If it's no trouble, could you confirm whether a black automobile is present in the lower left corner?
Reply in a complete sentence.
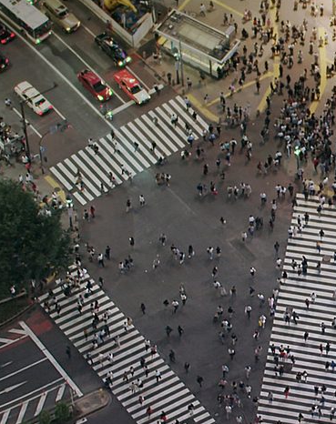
No, there is no black automobile in the lower left corner.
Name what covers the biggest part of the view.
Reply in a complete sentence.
What you mostly see from above here is paved ground.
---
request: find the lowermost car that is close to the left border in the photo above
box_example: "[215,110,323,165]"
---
[15,80,52,109]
